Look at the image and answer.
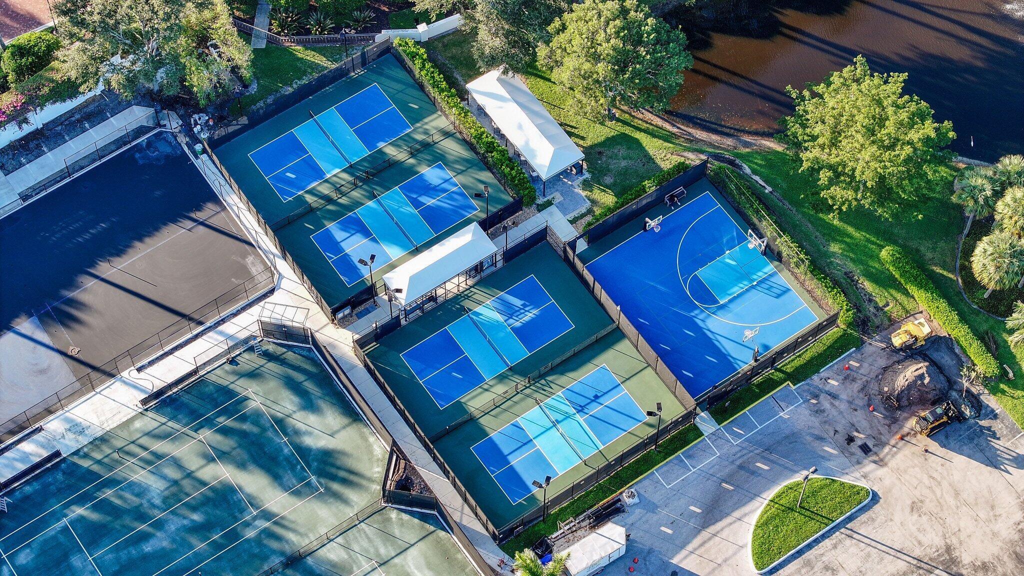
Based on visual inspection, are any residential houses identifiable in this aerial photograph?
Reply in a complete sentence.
No, there's no residential house here.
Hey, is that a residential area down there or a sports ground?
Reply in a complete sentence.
What you see here is a sports ground.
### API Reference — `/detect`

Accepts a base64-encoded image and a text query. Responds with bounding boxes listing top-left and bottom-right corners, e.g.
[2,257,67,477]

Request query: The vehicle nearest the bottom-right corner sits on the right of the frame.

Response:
[912,403,964,442]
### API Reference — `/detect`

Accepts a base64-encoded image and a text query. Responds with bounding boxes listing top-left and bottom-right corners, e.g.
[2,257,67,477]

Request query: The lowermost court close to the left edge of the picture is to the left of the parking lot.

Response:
[0,336,389,576]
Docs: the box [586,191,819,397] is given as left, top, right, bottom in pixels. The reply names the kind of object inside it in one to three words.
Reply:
basketball court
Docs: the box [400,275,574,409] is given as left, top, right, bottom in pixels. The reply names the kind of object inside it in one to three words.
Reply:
sports court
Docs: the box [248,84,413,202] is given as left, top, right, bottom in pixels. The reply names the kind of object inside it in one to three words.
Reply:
sports court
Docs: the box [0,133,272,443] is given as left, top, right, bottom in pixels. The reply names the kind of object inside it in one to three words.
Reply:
tennis court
